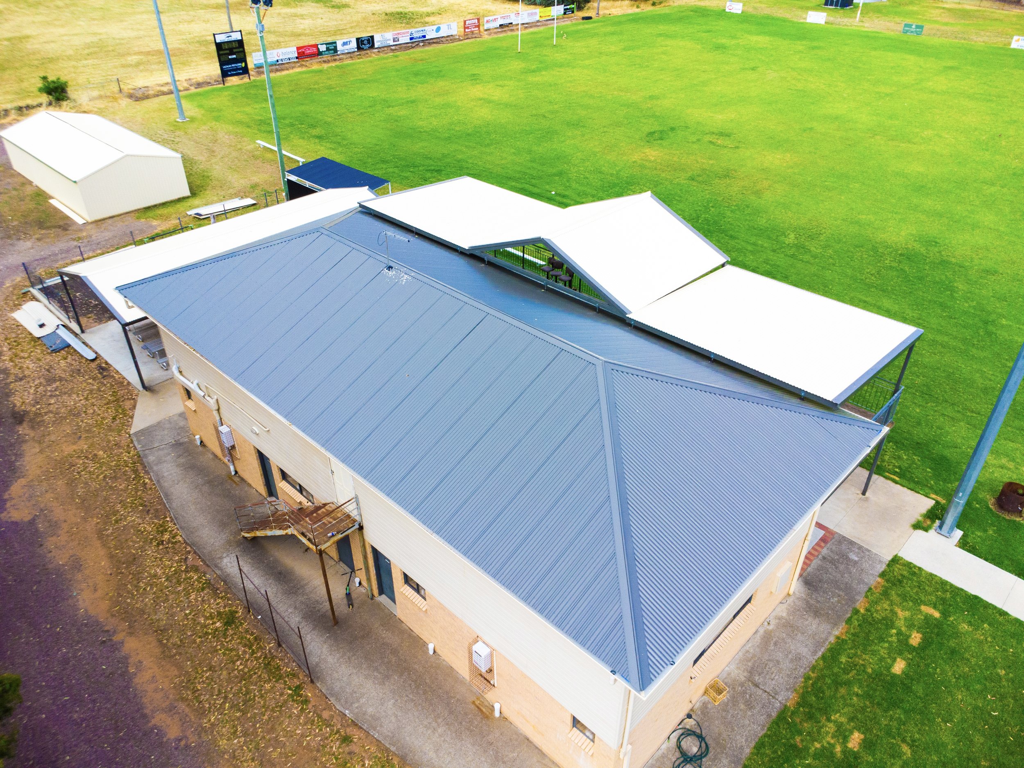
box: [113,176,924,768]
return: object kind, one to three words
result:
building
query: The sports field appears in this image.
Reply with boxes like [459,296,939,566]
[179,7,1024,606]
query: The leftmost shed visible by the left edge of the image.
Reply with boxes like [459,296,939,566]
[0,112,192,221]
